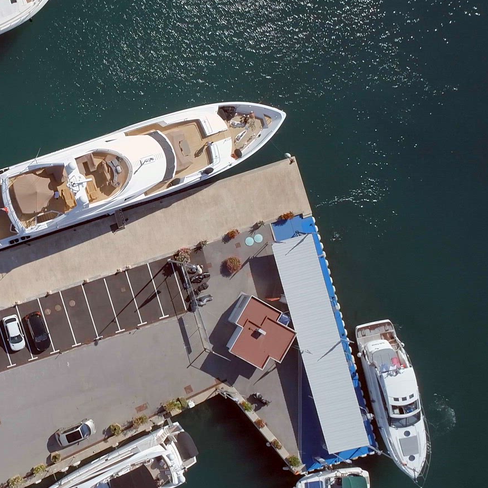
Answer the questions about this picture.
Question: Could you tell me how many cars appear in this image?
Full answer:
Looking from above, you can make out 3 cars.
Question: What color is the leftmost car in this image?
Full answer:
The color of the leftmost car is white.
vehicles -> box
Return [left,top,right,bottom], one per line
[253,394,271,406]
[190,274,208,283]
[25,311,48,351]
[187,266,204,272]
[54,419,95,447]
[2,314,24,352]
[193,284,209,294]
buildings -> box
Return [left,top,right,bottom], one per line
[266,234,370,454]
[220,292,296,370]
